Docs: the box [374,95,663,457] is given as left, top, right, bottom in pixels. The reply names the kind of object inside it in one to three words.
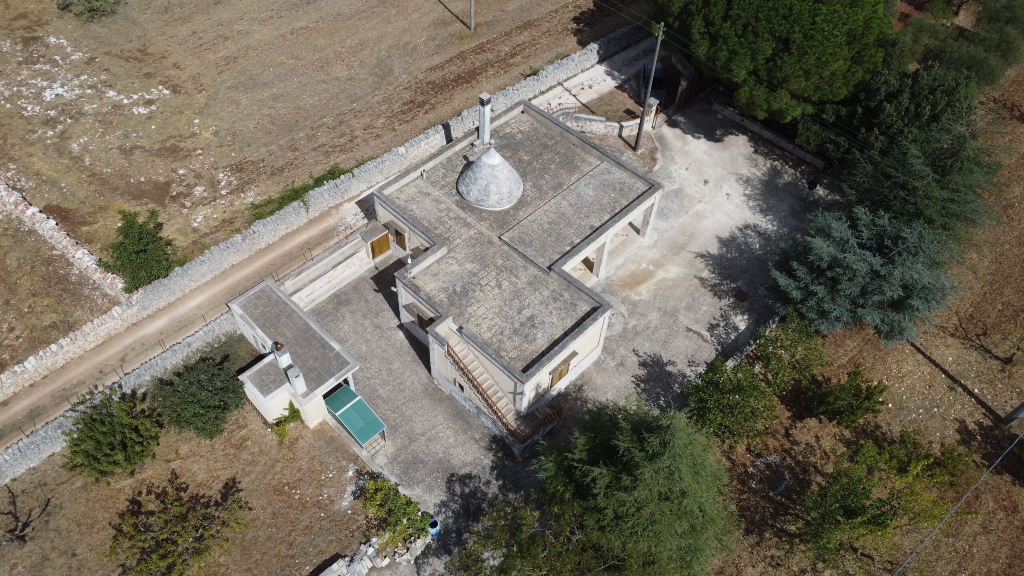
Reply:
house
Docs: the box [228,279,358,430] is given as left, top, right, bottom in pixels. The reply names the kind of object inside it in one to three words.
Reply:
shed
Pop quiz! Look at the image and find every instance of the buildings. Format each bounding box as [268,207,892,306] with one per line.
[228,279,358,430]
[374,95,663,457]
